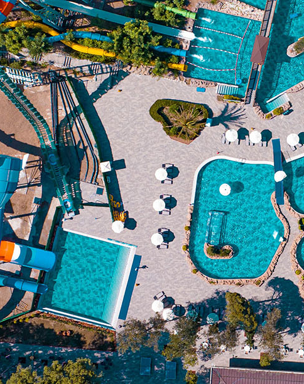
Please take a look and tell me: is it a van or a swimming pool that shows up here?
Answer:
swimming pool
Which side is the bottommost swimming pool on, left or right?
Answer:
left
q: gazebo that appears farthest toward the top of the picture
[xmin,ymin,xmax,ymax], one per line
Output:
[250,34,270,64]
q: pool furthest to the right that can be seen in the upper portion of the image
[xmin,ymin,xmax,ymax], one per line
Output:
[257,0,304,110]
